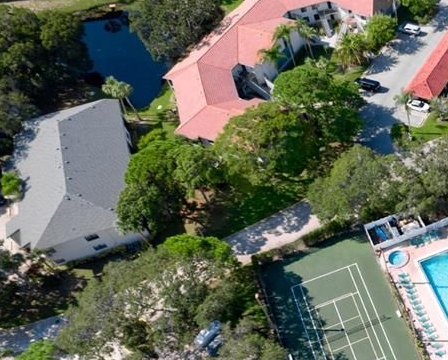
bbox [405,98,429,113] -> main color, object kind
white car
